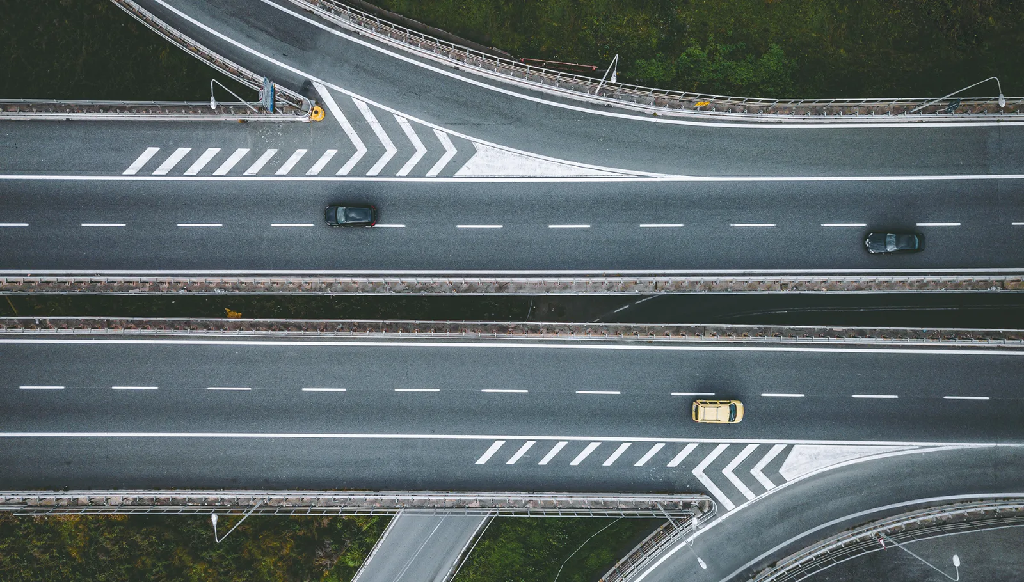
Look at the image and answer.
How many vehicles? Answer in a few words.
three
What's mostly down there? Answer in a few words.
paved ground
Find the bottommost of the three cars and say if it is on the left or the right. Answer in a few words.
right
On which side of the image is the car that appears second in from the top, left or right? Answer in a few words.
right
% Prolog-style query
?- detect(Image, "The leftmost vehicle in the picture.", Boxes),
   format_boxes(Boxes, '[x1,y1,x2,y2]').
[325,202,376,230]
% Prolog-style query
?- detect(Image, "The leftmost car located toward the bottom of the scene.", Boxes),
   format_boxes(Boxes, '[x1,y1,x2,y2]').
[692,398,744,427]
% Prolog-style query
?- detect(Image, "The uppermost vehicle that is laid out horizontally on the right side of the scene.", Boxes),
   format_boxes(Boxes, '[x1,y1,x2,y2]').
[865,228,924,256]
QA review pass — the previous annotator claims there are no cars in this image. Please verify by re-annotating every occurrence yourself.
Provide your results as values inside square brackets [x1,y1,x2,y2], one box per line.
[865,228,924,256]
[325,202,376,230]
[692,398,744,427]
